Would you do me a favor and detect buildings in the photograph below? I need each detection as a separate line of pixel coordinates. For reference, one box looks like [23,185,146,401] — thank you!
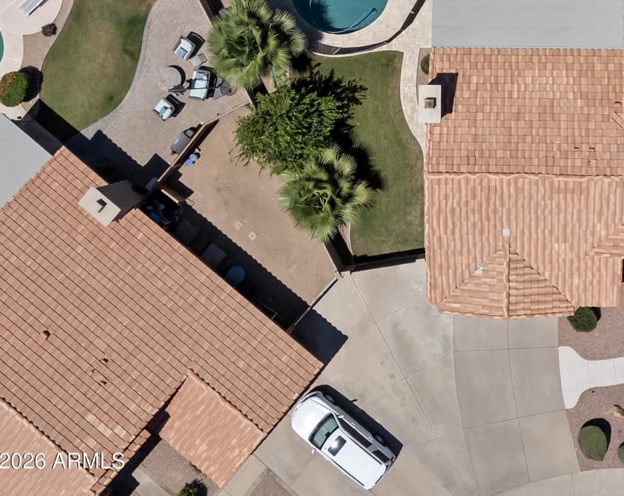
[0,106,323,496]
[419,0,624,318]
